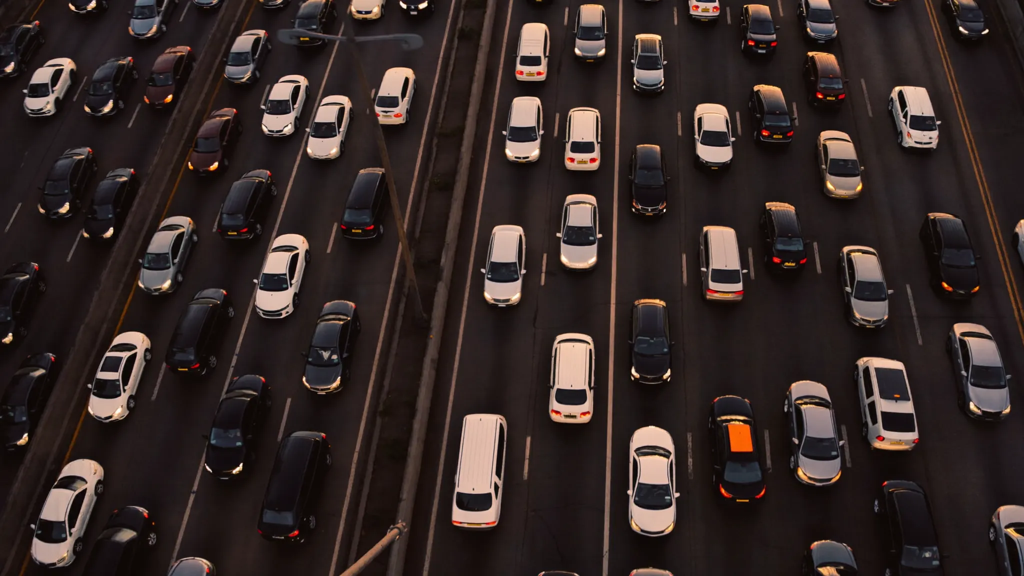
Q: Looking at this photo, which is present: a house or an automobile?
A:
automobile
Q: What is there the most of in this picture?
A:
paved ground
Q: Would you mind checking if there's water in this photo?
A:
No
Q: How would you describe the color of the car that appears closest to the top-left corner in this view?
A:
black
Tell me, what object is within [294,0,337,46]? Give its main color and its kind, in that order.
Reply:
black car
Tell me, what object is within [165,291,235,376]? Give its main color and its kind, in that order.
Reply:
black vehicle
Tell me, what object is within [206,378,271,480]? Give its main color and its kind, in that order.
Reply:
black car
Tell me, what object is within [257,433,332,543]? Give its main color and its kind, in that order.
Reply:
black vehicle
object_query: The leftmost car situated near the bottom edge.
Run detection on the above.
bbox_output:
[30,460,107,569]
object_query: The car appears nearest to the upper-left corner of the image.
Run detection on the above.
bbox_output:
[0,24,39,76]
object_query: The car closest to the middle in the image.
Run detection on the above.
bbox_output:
[480,229,527,306]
